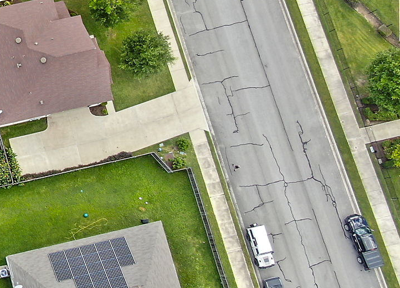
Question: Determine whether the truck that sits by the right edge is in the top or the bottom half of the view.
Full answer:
You can find the truck that sits by the right edge in the bottom half.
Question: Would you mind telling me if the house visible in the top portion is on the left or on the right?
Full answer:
It is on the left.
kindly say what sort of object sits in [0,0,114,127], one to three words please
house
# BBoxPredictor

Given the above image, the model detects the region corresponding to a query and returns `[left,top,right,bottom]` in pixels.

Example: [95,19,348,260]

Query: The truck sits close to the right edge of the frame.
[346,214,386,269]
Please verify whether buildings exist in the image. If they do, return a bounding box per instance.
[0,0,114,127]
[6,220,181,288]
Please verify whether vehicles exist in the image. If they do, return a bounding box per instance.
[346,214,386,269]
[245,223,275,268]
[261,274,284,288]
